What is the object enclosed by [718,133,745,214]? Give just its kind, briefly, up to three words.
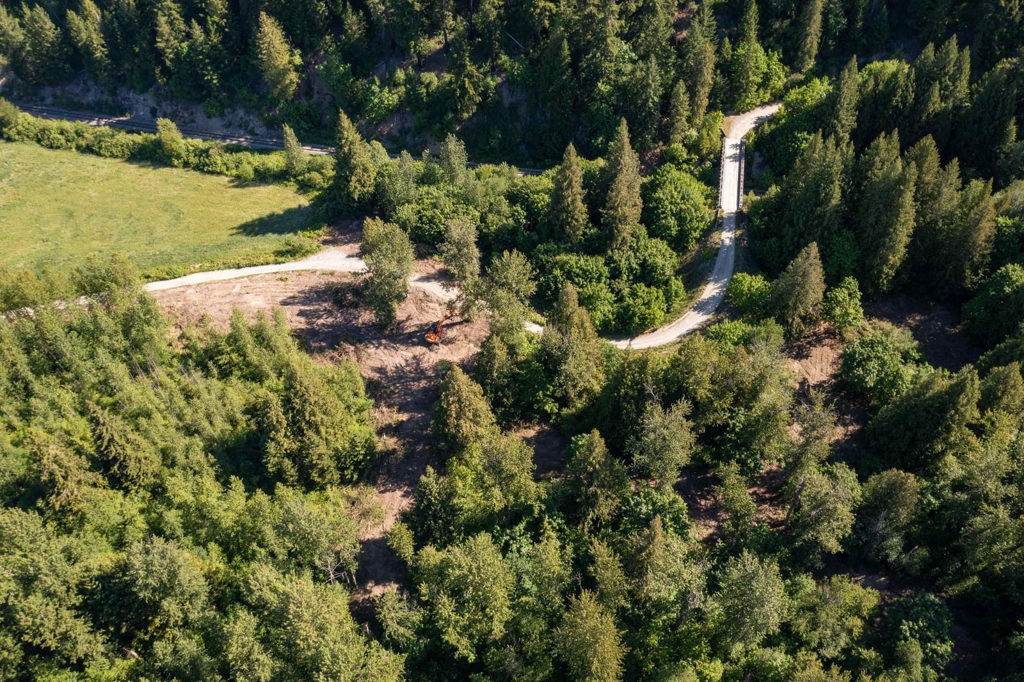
bridge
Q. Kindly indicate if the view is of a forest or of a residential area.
forest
